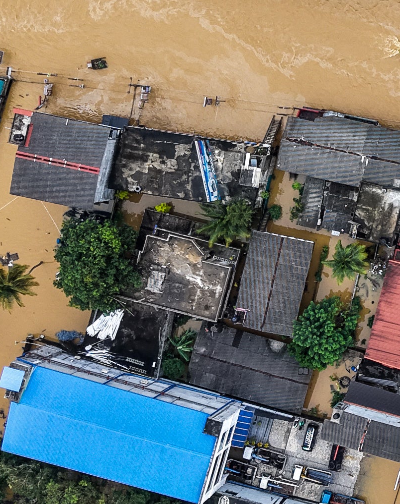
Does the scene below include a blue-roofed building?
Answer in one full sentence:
Yes, a blue-roofed building is visible in the scene.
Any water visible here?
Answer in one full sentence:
Yes, there is water in the image.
